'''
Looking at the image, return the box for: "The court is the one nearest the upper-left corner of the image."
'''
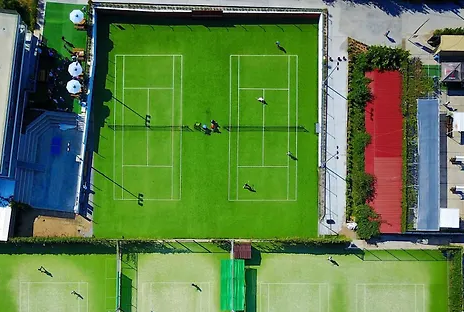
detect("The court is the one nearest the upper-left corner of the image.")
[112,52,185,203]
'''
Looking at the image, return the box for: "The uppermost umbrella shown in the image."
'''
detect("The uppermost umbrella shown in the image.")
[70,10,85,27]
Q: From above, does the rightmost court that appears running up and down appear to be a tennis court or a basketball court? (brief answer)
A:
tennis court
